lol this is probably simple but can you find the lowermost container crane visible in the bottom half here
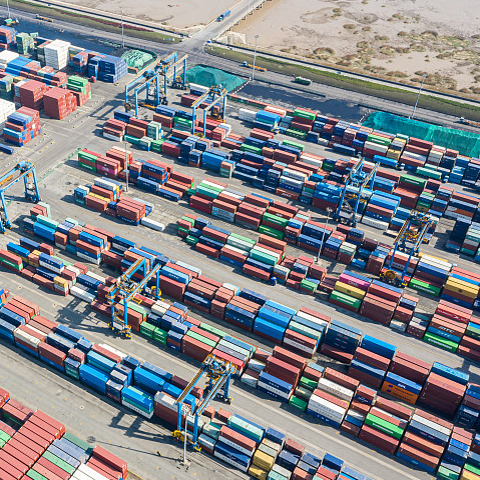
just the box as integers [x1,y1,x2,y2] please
[167,352,238,453]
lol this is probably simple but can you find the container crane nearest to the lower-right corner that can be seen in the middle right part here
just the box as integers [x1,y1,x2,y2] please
[375,212,432,289]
